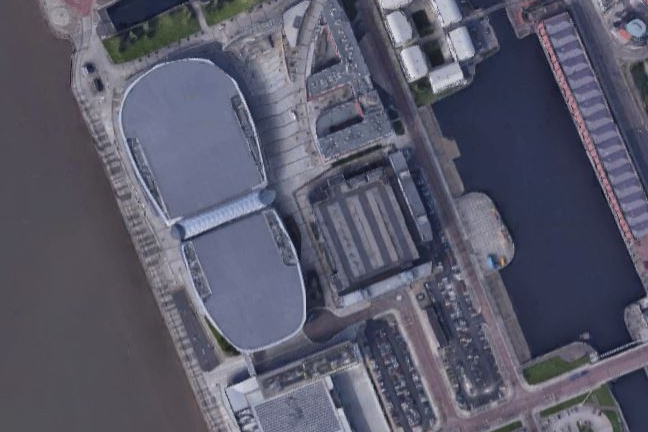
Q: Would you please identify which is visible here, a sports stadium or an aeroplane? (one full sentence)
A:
There is a sports stadium in the scene.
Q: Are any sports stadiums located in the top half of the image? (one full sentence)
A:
Yes, I can see a sports stadium in the top half of the image.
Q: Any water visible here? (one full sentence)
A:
Yes, there is water in the image.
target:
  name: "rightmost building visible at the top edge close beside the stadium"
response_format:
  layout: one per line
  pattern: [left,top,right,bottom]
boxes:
[306,0,393,165]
